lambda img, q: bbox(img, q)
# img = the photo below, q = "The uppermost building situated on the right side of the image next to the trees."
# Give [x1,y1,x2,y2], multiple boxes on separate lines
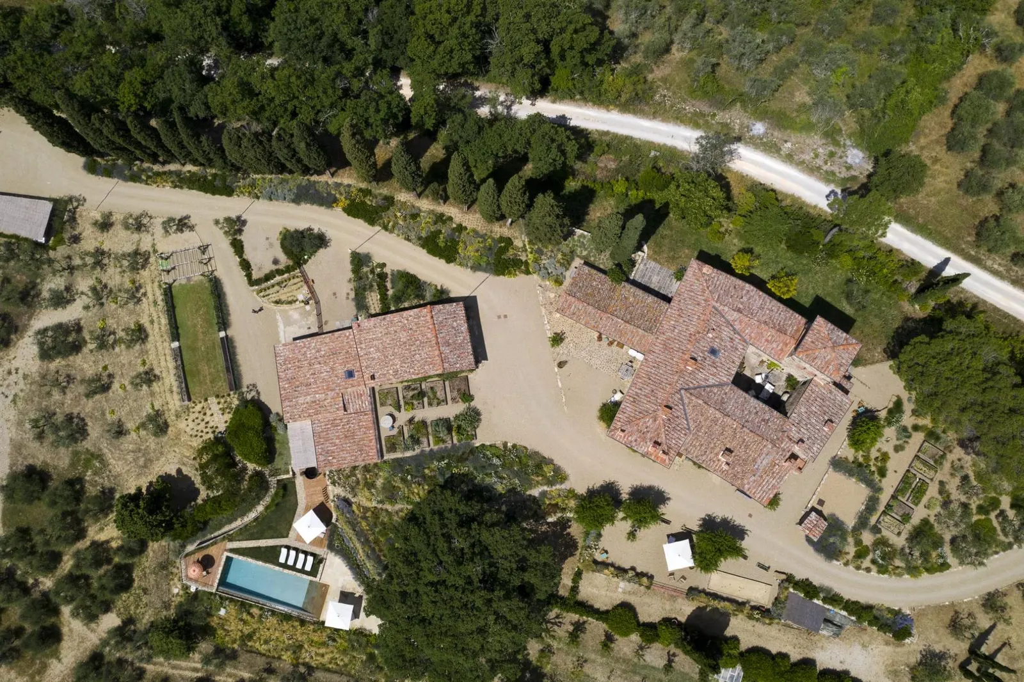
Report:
[555,259,863,507]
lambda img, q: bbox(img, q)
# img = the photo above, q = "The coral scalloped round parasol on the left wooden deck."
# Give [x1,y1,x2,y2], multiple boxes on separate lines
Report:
[184,561,204,581]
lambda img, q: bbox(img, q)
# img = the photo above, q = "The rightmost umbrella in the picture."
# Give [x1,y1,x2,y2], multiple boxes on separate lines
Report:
[663,539,694,571]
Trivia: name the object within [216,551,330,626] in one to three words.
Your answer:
swimming pool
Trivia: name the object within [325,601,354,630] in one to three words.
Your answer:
umbrella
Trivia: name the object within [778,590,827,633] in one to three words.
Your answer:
shed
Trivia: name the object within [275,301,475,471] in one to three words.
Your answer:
shed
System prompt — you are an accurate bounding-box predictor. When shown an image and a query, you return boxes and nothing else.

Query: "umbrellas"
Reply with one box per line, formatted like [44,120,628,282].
[663,539,694,571]
[293,509,326,543]
[184,561,204,581]
[325,601,354,630]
